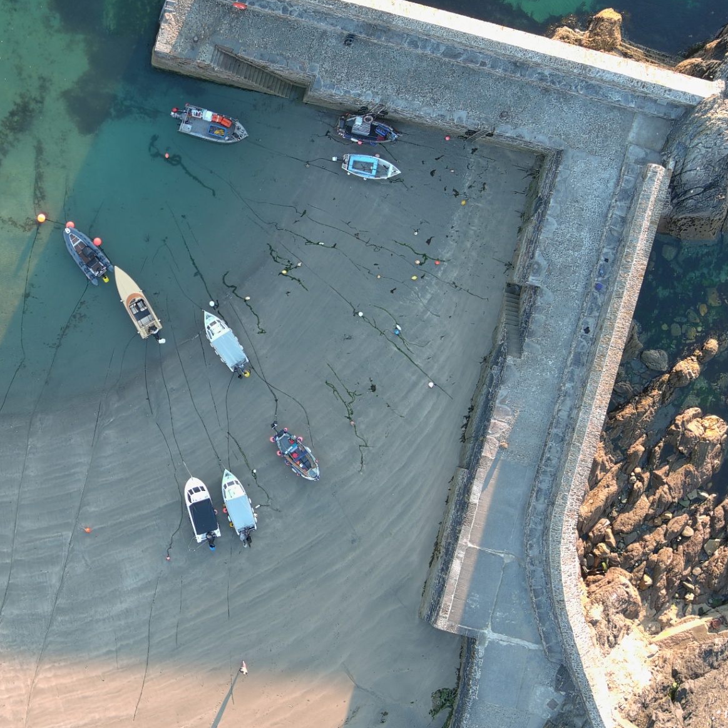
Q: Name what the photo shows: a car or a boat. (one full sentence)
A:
This aerial view contains a boat.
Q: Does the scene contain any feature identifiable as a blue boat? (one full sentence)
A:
Yes, there's a blue boat here.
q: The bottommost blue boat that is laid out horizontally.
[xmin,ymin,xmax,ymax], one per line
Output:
[329,153,401,178]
